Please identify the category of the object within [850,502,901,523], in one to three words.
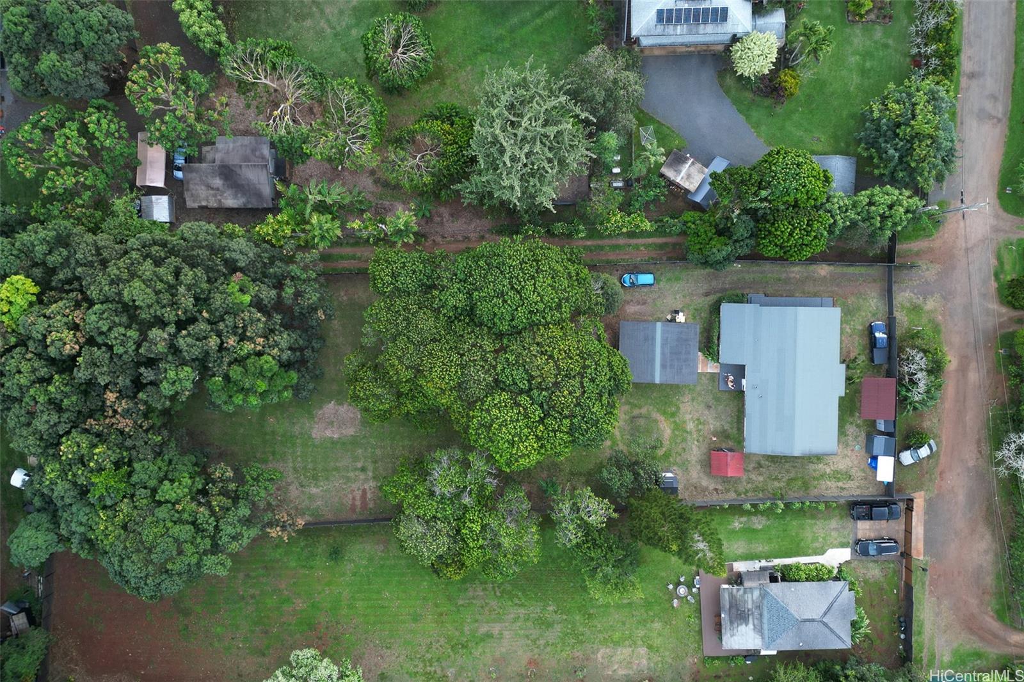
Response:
truck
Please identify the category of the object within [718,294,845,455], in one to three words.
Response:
house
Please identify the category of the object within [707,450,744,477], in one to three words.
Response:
shed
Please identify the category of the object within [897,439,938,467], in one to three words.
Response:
car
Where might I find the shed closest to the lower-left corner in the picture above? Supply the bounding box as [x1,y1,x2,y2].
[0,595,38,623]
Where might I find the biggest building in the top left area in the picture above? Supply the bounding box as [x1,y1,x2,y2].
[182,137,275,209]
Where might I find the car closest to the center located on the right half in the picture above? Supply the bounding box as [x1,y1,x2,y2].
[622,271,657,289]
